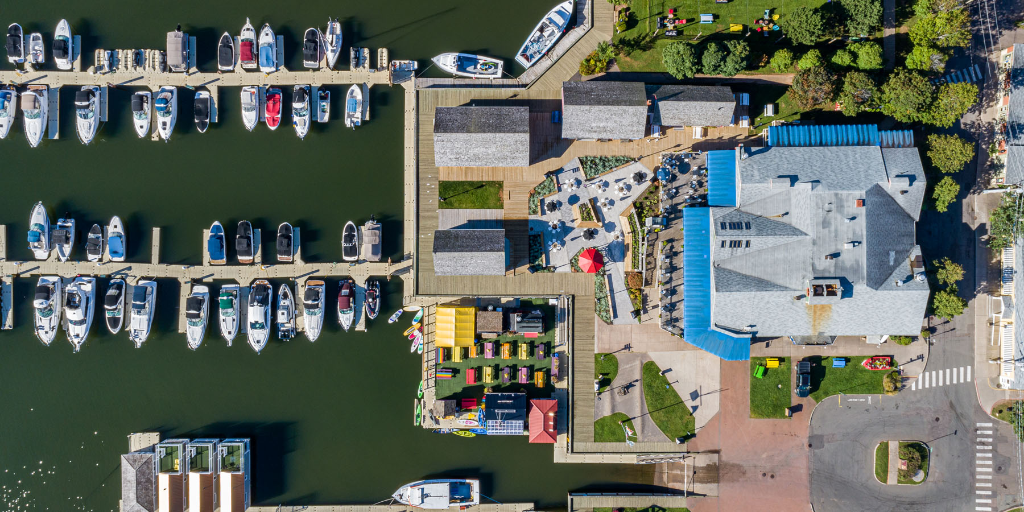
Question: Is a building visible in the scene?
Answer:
Yes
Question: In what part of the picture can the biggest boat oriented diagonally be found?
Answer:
top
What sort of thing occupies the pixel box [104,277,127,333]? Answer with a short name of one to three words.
boat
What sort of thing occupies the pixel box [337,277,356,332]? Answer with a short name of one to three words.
boat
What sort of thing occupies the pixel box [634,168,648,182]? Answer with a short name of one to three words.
umbrella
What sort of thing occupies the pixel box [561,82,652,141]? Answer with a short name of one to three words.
shed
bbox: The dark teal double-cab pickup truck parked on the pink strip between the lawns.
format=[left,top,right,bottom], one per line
[794,360,812,398]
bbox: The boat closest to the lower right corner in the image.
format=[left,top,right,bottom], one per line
[863,356,892,370]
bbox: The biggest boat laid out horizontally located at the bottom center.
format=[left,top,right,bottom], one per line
[373,480,502,510]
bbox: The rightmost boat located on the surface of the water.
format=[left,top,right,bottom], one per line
[513,1,572,72]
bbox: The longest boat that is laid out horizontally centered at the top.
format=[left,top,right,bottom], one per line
[422,55,504,81]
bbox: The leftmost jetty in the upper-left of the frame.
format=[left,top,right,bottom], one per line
[0,35,391,141]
